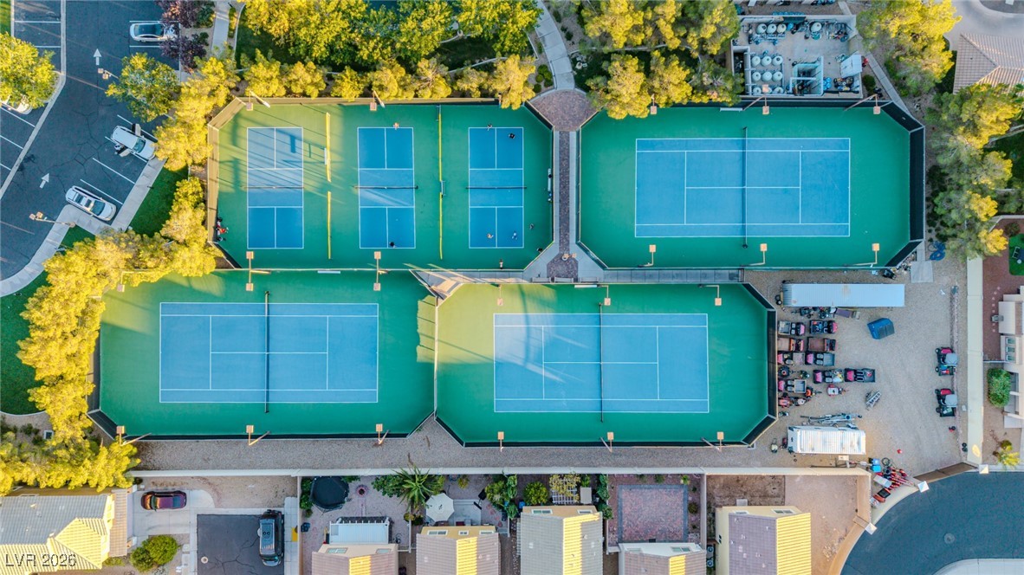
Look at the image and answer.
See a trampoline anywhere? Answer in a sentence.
Yes, the image includes a trampoline.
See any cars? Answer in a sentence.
Yes, the frame does contain a car.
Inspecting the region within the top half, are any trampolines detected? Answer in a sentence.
No, there's no trampoline to be seen within the top half.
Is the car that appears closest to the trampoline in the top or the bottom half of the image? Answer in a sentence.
The bottom half of the photo is where the car that appears closest to the trampoline is.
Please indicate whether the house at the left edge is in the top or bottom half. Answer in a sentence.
The bottom half of the photo is where the house at the left edge is.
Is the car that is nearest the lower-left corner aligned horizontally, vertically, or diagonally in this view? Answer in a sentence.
The car that is nearest the lower-left corner is laid out horizontally.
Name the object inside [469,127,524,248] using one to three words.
sports court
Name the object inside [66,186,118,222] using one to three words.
car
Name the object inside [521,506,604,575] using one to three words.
house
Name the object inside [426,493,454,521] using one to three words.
umbrella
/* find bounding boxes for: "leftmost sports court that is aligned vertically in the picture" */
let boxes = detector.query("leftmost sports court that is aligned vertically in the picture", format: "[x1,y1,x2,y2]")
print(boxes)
[247,128,304,249]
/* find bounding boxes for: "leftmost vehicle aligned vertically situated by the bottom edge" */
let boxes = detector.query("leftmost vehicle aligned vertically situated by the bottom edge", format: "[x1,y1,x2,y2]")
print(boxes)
[261,507,284,561]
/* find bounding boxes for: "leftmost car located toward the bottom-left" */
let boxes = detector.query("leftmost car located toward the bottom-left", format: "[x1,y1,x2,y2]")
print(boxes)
[143,489,188,511]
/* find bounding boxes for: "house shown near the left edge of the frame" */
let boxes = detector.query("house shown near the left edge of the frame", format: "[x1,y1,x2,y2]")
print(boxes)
[0,488,134,572]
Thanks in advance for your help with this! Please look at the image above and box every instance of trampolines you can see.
[309,476,350,514]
